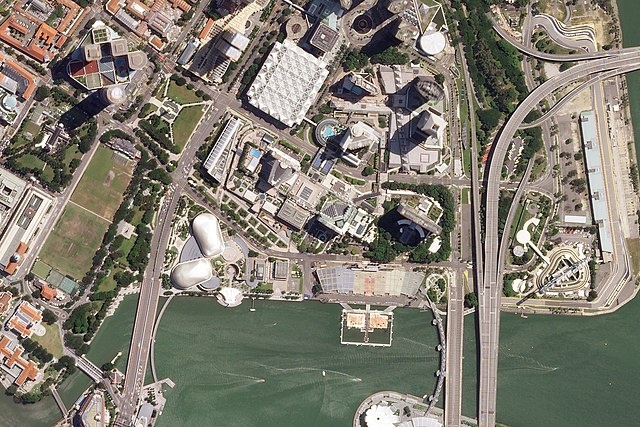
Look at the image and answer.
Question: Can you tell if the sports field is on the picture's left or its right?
left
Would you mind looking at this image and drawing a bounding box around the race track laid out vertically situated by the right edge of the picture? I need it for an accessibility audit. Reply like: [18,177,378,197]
[500,69,628,310]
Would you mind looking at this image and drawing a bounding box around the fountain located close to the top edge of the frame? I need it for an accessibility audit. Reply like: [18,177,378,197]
[353,14,372,34]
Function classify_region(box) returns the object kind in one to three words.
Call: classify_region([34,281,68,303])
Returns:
building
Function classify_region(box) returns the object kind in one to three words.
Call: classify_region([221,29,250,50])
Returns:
building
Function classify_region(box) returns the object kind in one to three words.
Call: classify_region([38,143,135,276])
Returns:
sports field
